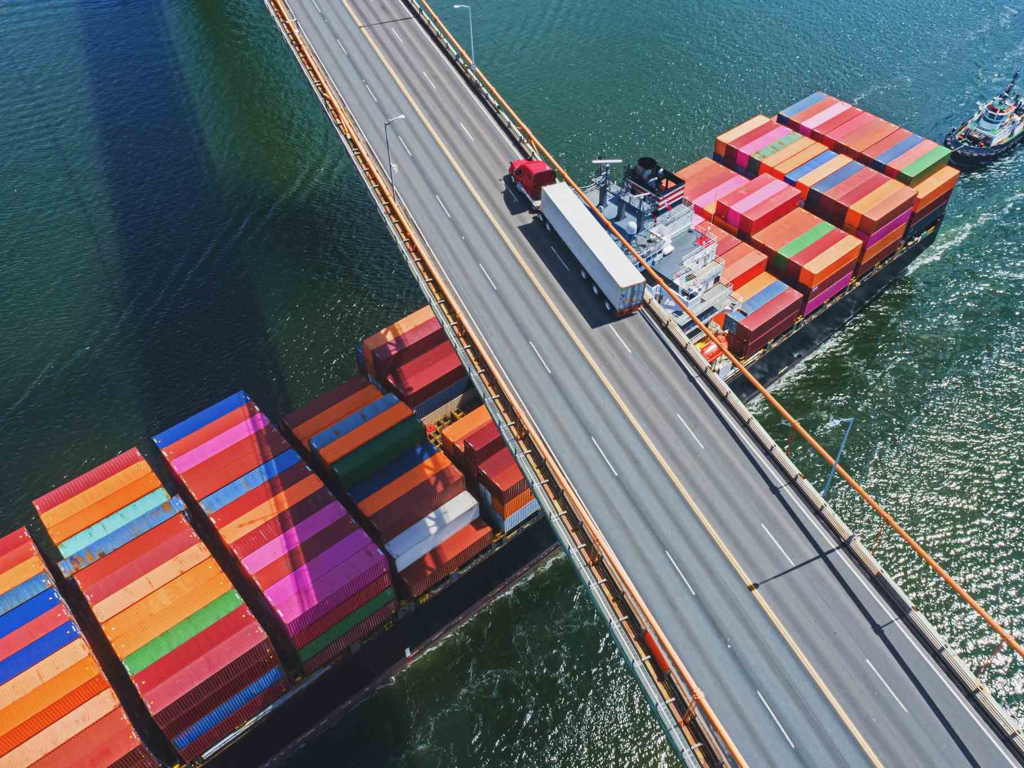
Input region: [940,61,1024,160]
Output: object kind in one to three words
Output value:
boat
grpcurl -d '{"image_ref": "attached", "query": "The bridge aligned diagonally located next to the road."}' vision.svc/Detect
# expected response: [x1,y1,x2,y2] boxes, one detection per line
[257,0,1024,768]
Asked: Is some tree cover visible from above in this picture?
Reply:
No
